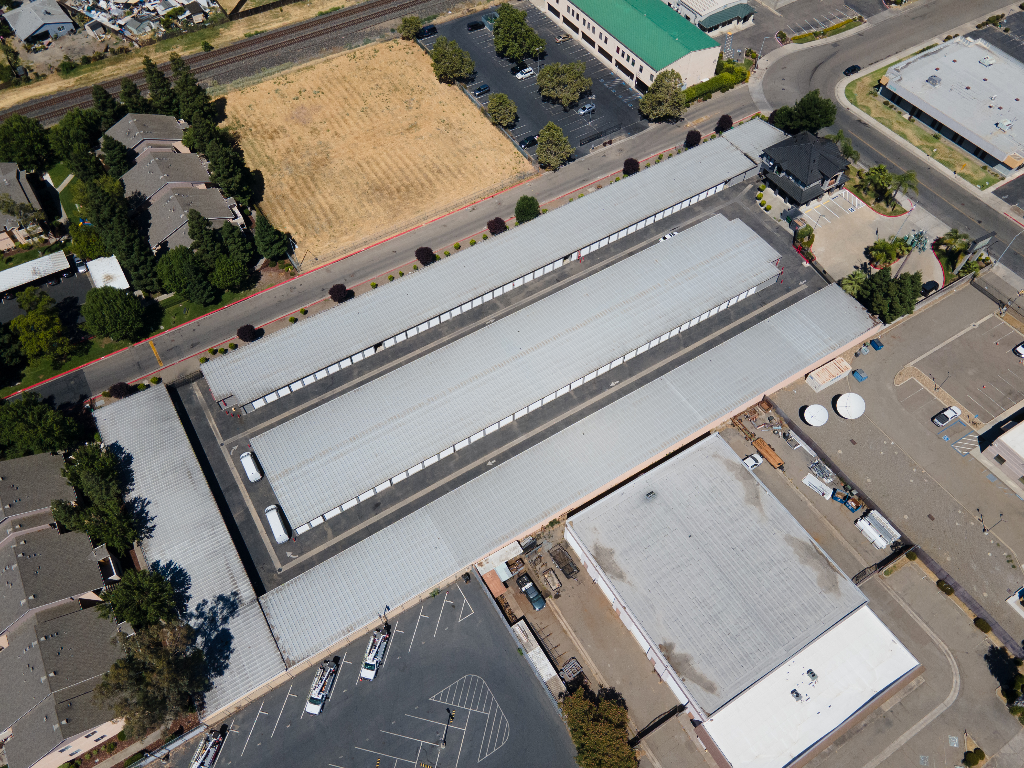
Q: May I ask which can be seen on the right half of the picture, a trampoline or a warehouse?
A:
warehouse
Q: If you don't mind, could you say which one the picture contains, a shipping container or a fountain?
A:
shipping container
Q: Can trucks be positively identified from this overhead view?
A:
Yes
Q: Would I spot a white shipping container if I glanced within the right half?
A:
Yes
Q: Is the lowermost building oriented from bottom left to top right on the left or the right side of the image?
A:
right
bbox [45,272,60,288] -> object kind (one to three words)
car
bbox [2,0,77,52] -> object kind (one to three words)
house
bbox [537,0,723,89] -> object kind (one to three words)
building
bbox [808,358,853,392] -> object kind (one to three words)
shipping container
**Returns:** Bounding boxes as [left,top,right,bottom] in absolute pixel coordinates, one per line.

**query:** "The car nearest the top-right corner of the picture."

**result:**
[842,66,862,78]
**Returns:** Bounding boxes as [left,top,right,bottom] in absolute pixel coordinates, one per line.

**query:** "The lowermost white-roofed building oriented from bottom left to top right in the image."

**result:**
[693,602,929,768]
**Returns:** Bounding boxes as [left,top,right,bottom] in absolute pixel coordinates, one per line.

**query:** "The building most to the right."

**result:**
[983,416,1024,490]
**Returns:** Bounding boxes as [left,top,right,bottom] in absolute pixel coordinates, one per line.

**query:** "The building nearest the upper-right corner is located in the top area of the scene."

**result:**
[874,18,1024,175]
